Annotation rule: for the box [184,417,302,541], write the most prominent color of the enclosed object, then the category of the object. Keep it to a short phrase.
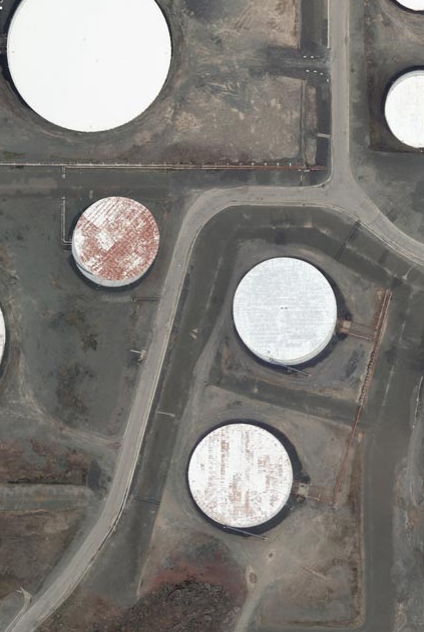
white storage tank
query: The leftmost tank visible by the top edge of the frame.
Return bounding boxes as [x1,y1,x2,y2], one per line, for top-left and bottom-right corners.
[0,0,172,135]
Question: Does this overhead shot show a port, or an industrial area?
industrial area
